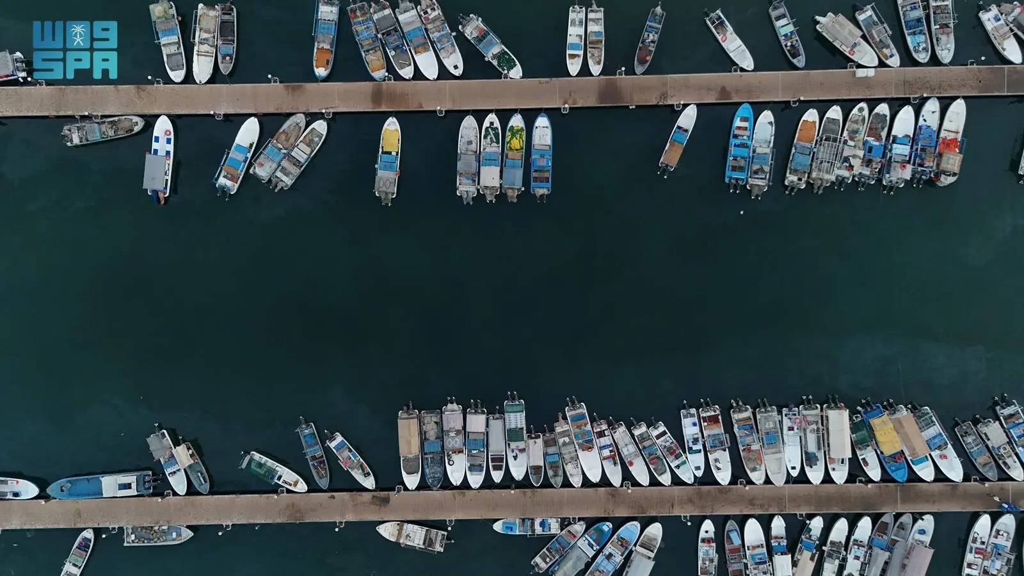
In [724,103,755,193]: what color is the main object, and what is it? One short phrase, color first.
blue boat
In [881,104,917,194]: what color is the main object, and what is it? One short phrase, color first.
white boat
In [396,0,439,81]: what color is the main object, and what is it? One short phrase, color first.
white boat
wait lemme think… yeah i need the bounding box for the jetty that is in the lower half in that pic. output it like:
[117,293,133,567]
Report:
[0,474,1024,537]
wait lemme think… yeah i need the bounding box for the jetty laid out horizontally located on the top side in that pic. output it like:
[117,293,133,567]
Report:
[0,58,1024,123]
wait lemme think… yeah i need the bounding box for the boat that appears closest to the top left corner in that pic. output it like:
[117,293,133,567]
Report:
[0,51,36,80]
